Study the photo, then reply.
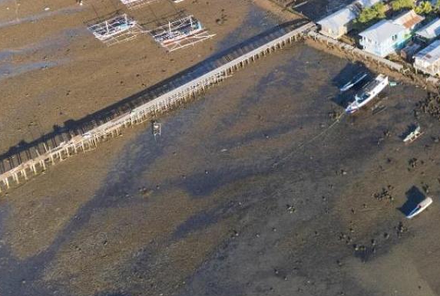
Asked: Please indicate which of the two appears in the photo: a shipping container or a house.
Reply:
house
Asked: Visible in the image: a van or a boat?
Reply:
boat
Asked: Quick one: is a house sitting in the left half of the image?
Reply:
No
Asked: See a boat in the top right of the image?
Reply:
Yes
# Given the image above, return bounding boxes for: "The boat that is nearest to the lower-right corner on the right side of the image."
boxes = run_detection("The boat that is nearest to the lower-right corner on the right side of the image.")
[406,192,433,217]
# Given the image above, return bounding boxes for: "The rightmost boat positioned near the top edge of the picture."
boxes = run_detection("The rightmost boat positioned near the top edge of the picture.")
[146,10,219,59]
